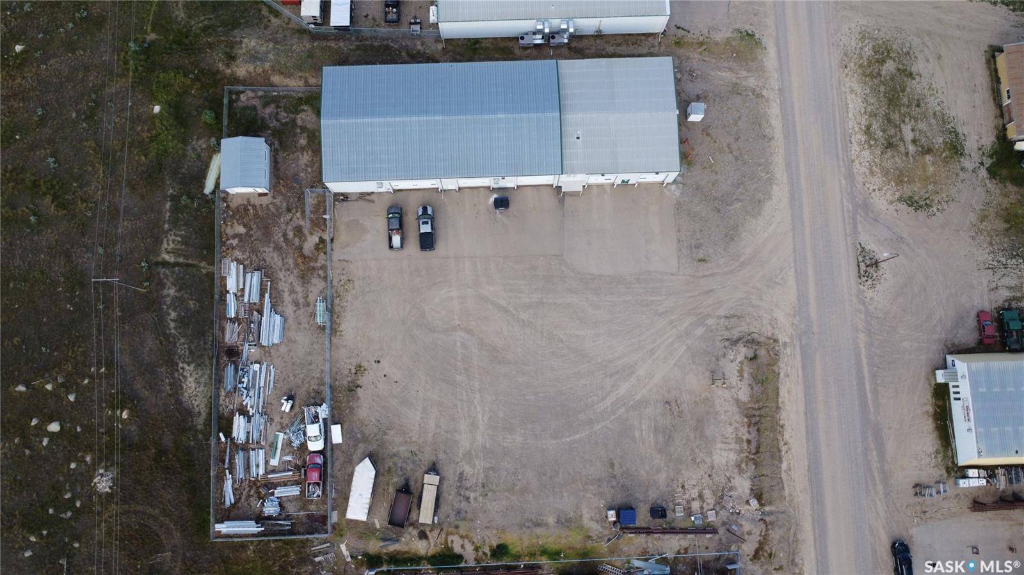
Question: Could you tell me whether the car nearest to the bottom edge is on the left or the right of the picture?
right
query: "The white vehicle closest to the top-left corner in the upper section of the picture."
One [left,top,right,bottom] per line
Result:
[301,0,326,27]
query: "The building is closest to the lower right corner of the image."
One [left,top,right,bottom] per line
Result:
[935,352,1024,466]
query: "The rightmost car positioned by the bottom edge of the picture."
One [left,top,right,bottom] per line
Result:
[891,541,918,575]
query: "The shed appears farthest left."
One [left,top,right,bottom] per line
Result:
[220,136,270,198]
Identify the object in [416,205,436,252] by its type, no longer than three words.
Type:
vehicle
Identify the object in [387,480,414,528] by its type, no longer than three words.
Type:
trailer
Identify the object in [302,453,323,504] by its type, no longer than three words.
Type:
truck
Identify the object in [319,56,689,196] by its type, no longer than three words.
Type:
building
